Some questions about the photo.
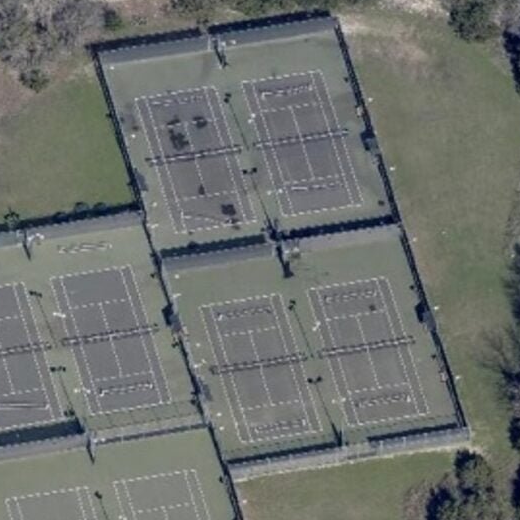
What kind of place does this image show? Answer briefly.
sports ground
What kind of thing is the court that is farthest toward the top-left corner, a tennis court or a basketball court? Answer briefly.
tennis court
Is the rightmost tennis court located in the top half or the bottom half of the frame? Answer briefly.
bottom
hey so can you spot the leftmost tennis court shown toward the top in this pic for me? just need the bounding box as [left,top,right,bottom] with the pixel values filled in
[136,86,255,232]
